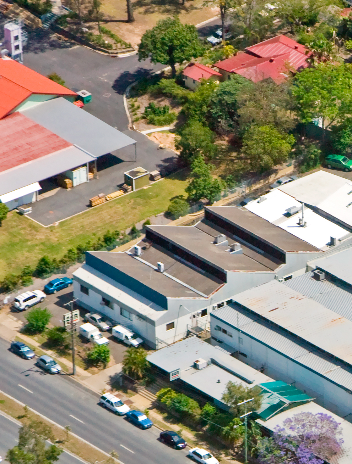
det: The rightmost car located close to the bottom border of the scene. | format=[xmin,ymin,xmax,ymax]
[188,448,219,464]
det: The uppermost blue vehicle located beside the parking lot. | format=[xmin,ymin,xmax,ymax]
[43,278,71,295]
